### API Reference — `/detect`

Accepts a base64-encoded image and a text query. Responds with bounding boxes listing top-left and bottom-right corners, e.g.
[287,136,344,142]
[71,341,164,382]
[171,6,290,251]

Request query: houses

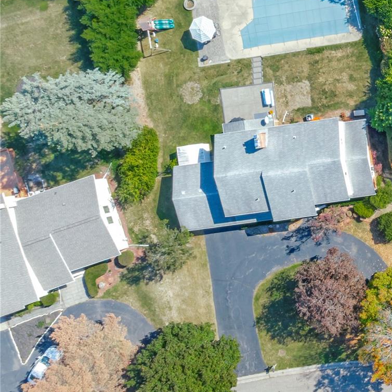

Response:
[0,164,147,316]
[172,115,378,232]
